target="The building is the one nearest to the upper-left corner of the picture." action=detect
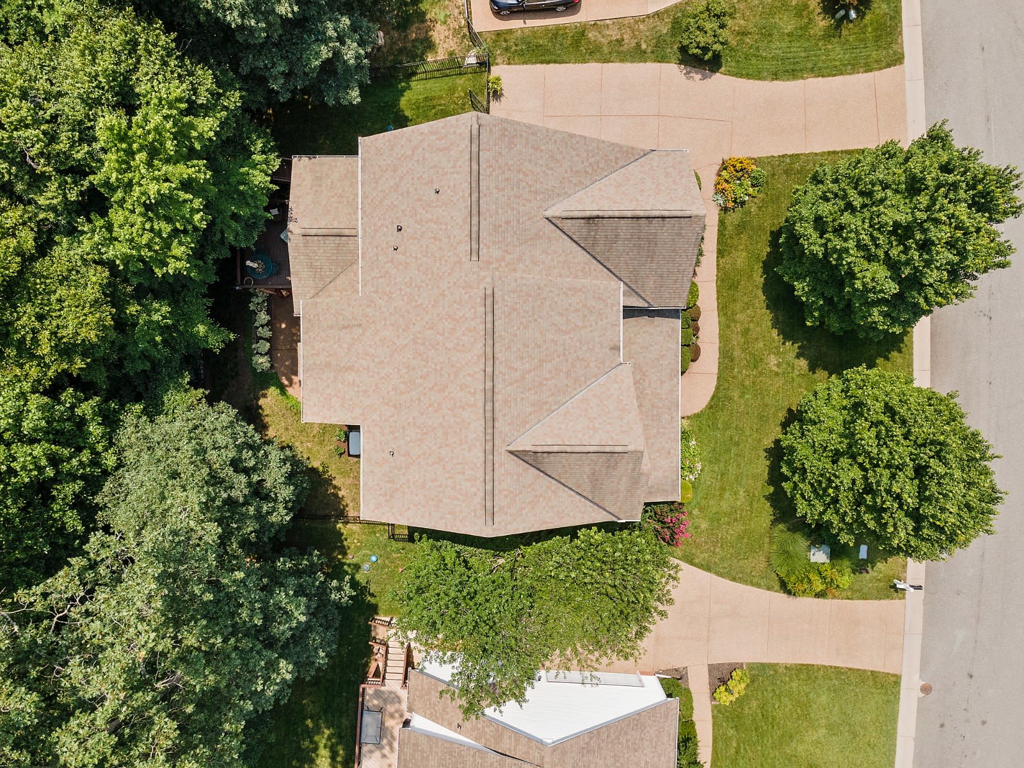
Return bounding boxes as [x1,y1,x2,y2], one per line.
[284,112,706,534]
